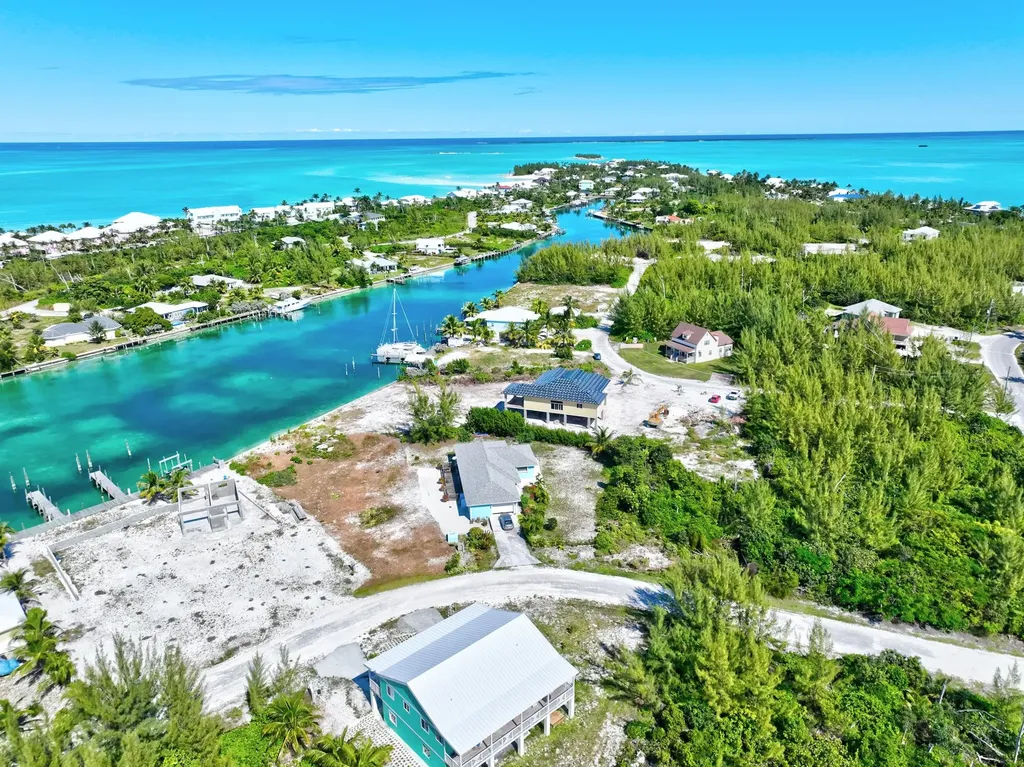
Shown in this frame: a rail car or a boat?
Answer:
boat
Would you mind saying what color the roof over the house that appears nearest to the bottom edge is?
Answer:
white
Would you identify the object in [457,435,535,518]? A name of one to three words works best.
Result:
house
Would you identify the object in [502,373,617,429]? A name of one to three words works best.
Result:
house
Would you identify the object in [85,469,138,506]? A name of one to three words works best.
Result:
pier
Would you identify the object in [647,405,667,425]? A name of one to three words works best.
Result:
work vehicle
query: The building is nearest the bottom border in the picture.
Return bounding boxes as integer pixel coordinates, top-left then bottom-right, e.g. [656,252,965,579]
[363,603,580,767]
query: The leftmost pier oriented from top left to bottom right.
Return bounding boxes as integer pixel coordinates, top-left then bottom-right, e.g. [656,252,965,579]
[19,487,79,527]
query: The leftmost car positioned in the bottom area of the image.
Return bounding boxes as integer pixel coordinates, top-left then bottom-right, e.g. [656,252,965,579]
[498,511,513,529]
